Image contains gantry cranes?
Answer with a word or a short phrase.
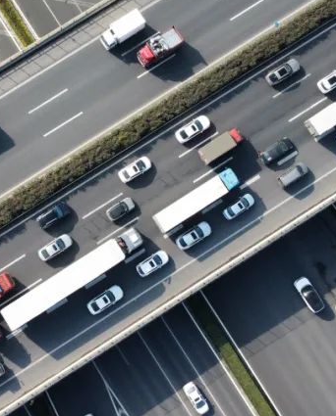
No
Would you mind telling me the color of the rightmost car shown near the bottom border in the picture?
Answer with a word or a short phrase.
white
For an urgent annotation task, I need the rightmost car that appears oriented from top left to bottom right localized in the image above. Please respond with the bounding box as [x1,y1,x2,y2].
[295,277,324,314]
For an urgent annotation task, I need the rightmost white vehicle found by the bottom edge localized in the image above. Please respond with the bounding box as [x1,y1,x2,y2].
[183,381,208,415]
